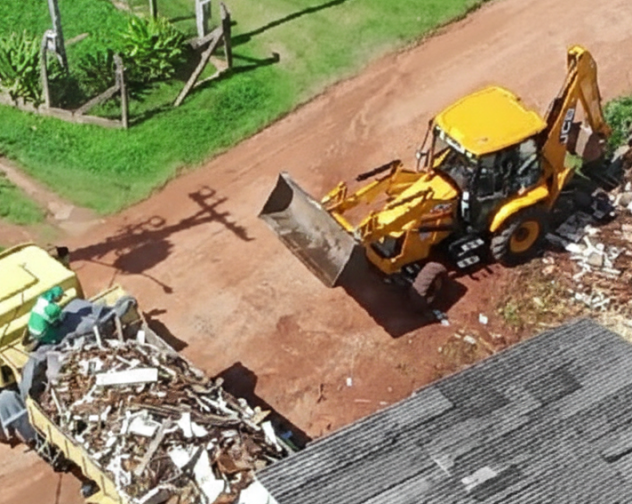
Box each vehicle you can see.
[0,236,207,504]
[256,44,615,303]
